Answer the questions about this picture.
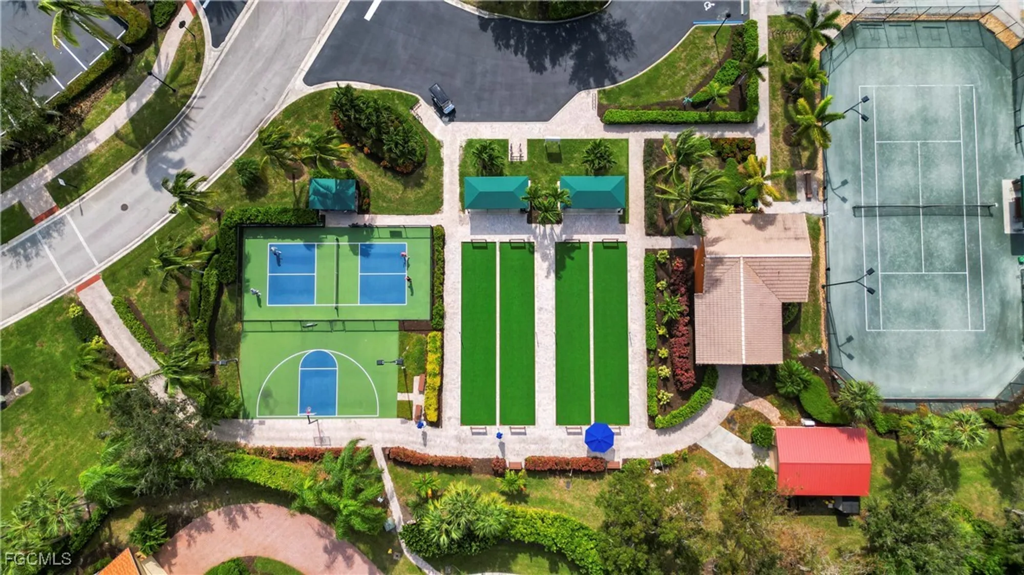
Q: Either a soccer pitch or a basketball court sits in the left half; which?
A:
basketball court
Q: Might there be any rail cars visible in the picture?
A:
No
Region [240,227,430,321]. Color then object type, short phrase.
green sports court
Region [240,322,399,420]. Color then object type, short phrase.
green basketball court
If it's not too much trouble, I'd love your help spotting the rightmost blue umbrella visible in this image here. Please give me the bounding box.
[585,424,612,451]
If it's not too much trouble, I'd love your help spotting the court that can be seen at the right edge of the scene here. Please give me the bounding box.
[820,21,1024,412]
